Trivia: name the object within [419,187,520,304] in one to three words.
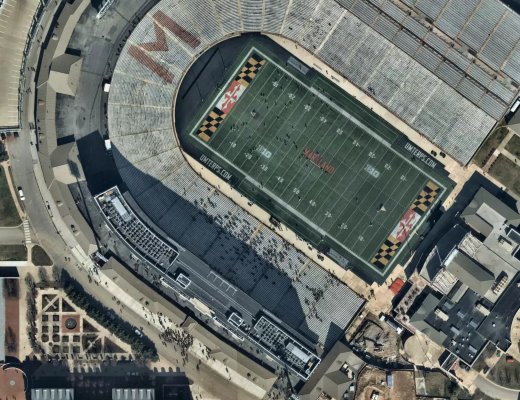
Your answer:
house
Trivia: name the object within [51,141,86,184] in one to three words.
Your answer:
building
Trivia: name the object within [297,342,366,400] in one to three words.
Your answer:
building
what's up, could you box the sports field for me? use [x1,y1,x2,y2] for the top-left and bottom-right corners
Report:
[176,32,459,288]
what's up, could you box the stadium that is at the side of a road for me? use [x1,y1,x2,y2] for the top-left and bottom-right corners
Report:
[108,0,520,349]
